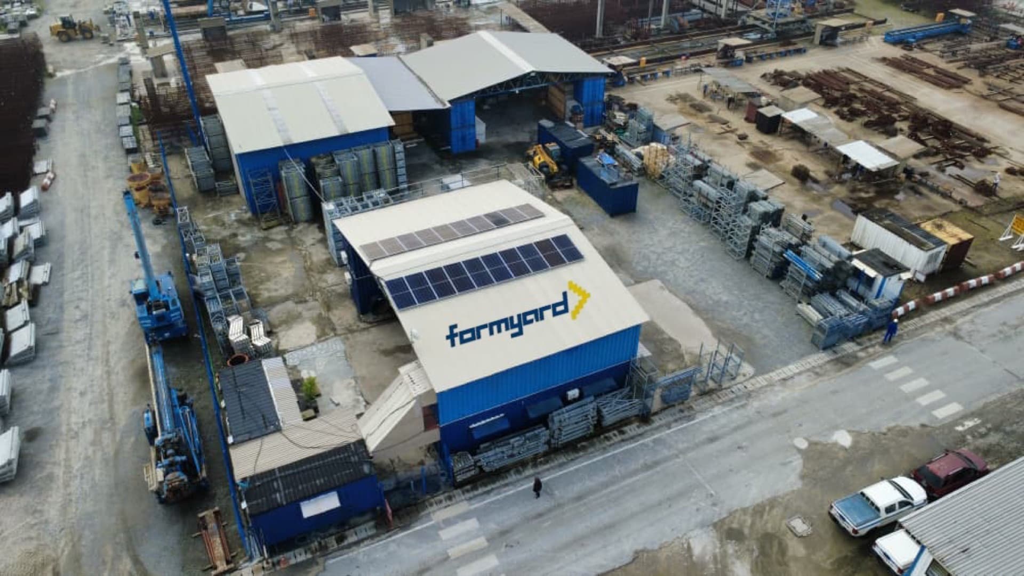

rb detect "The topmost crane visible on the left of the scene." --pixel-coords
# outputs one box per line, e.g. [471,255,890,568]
[121,188,188,347]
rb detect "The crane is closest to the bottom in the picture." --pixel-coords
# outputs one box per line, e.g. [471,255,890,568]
[135,336,209,503]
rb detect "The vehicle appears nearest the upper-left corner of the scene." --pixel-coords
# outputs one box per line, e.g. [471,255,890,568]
[46,11,106,42]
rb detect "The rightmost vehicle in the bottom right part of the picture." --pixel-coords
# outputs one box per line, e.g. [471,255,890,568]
[905,445,988,497]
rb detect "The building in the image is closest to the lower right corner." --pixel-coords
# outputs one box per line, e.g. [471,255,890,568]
[893,459,1024,576]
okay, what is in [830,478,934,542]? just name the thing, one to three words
truck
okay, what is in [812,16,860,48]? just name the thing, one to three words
shed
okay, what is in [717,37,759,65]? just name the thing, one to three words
shed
